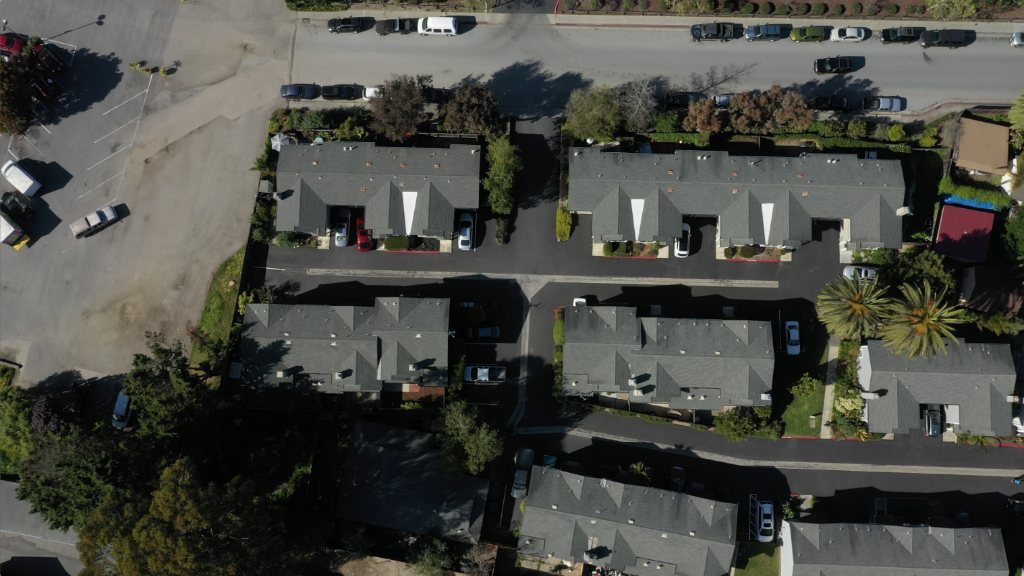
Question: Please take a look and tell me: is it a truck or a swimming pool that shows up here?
truck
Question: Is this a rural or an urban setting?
urban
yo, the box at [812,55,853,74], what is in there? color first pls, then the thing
black car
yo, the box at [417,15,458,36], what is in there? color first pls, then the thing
white vehicle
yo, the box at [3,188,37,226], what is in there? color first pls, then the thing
black car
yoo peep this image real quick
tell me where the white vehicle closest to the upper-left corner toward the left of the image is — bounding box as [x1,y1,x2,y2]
[0,155,41,195]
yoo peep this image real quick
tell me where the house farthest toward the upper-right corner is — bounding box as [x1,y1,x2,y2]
[938,116,1010,179]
